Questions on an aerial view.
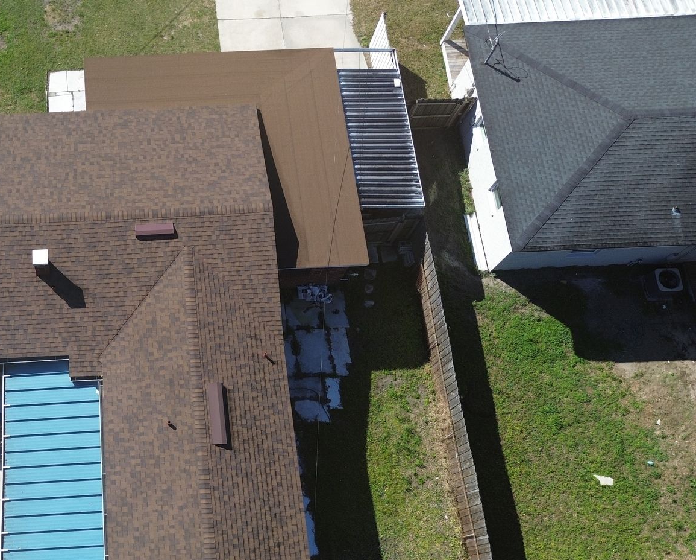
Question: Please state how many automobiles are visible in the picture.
0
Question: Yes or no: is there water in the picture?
No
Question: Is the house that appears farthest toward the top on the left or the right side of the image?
right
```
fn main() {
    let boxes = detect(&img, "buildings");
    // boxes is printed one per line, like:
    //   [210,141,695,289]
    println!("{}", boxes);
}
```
[0,52,366,560]
[438,0,696,272]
